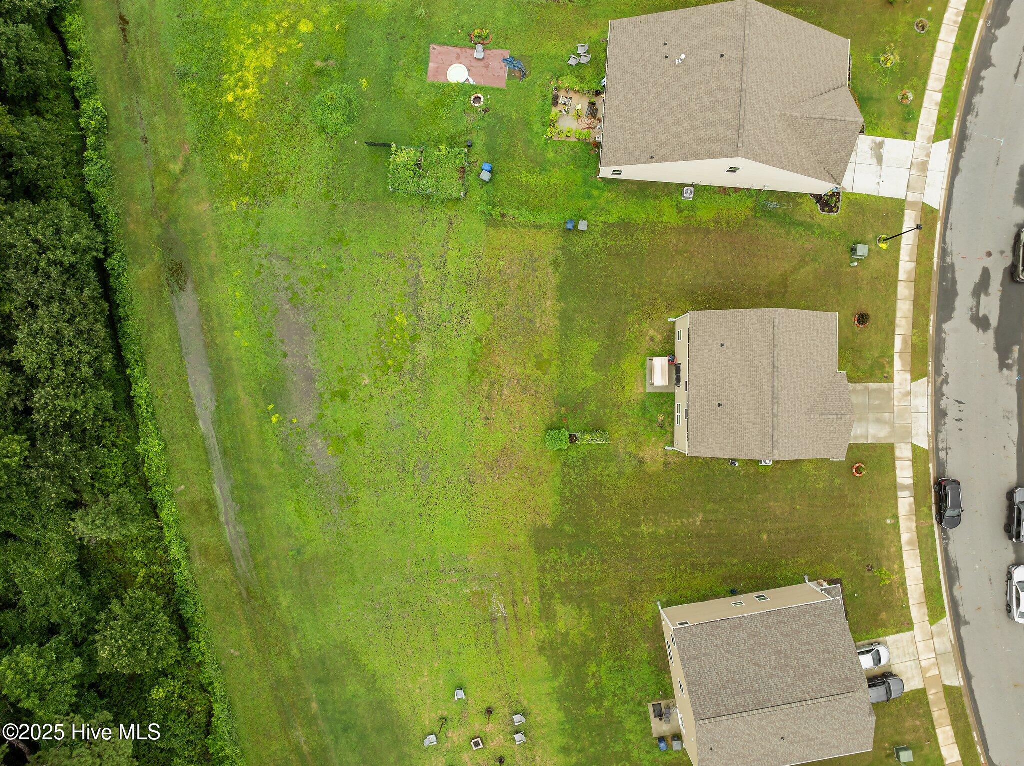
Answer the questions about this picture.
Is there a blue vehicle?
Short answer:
No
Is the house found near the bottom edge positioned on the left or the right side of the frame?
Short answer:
right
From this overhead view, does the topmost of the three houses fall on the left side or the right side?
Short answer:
right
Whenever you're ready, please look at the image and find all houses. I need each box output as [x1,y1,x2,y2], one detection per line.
[660,570,879,766]
[588,0,866,201]
[660,307,855,459]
